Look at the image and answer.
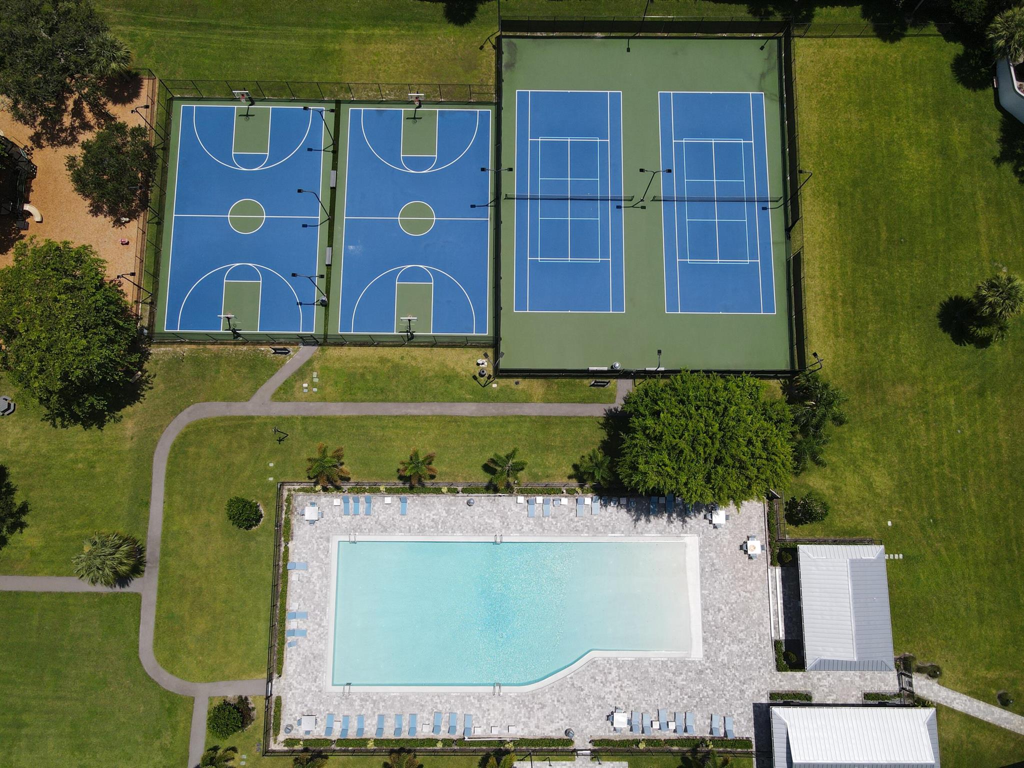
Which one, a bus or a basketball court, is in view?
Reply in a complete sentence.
Visible in the photo is a basketball court.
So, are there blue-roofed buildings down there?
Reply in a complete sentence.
No, there appears to be no blue-roofed building in this shot.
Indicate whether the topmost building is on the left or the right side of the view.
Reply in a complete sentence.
You can find the topmost building on the right side of the picture.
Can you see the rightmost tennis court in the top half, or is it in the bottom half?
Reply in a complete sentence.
The top half of the photo is where the rightmost tennis court is.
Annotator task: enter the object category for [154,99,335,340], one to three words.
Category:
basketball court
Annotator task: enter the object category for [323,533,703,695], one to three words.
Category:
swimming pool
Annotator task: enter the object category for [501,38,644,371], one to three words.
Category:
tennis court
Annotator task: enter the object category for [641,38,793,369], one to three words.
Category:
tennis court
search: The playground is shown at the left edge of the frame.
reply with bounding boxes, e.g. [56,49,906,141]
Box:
[0,77,156,370]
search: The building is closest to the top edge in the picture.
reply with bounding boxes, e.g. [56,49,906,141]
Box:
[795,544,895,672]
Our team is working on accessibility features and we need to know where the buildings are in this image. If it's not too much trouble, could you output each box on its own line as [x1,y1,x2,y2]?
[795,544,895,672]
[769,706,941,768]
